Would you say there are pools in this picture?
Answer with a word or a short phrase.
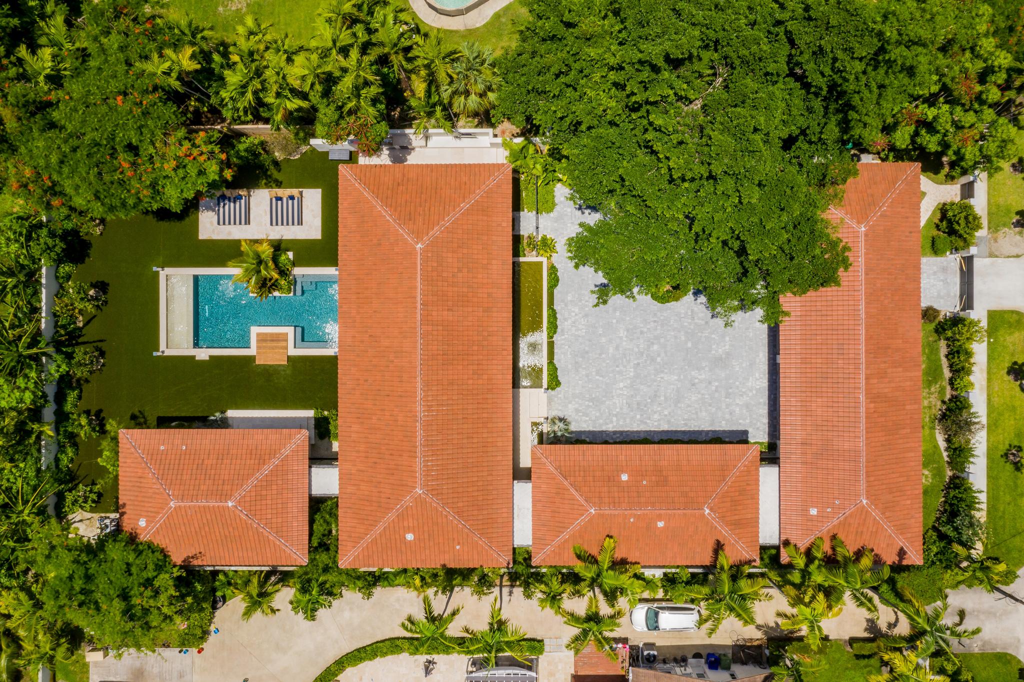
Yes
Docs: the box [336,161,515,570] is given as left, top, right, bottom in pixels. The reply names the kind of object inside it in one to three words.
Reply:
house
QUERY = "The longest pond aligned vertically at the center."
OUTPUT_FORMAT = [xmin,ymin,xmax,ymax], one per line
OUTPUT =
[514,258,547,389]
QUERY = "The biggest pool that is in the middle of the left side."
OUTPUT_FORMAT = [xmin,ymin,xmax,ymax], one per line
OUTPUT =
[159,267,337,360]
